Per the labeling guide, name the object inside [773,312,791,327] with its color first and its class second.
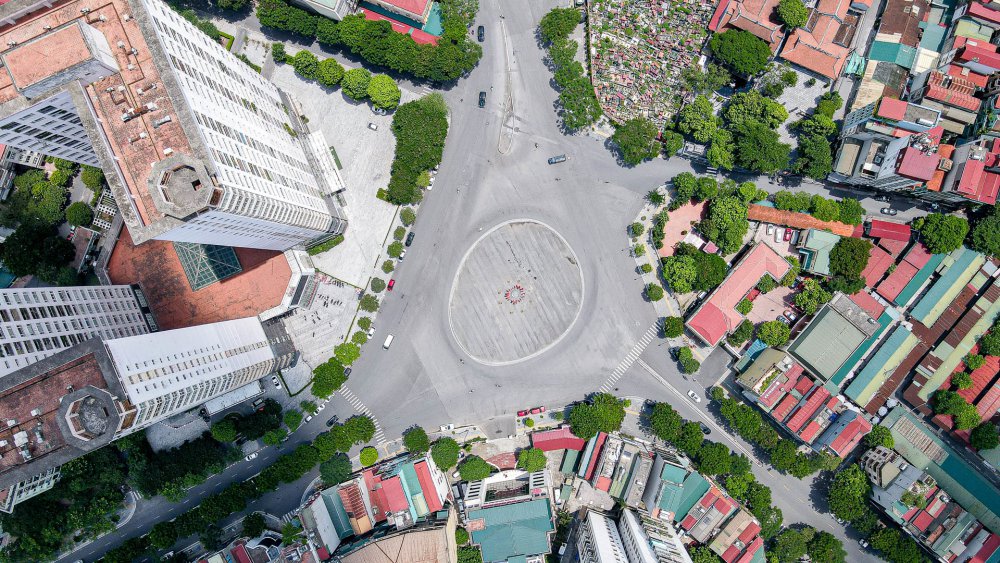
gray car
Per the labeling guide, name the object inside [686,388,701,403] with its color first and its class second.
white car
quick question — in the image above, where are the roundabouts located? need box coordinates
[449,220,584,365]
